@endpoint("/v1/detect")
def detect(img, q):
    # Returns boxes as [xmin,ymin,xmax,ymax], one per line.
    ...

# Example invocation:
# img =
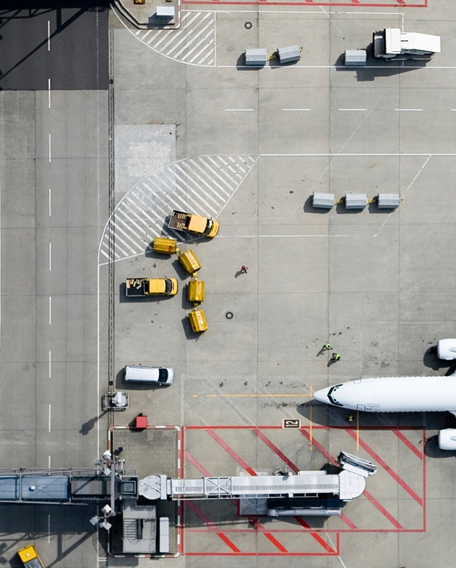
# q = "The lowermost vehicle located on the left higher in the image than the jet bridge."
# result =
[125,366,175,387]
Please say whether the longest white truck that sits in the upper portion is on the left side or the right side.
right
